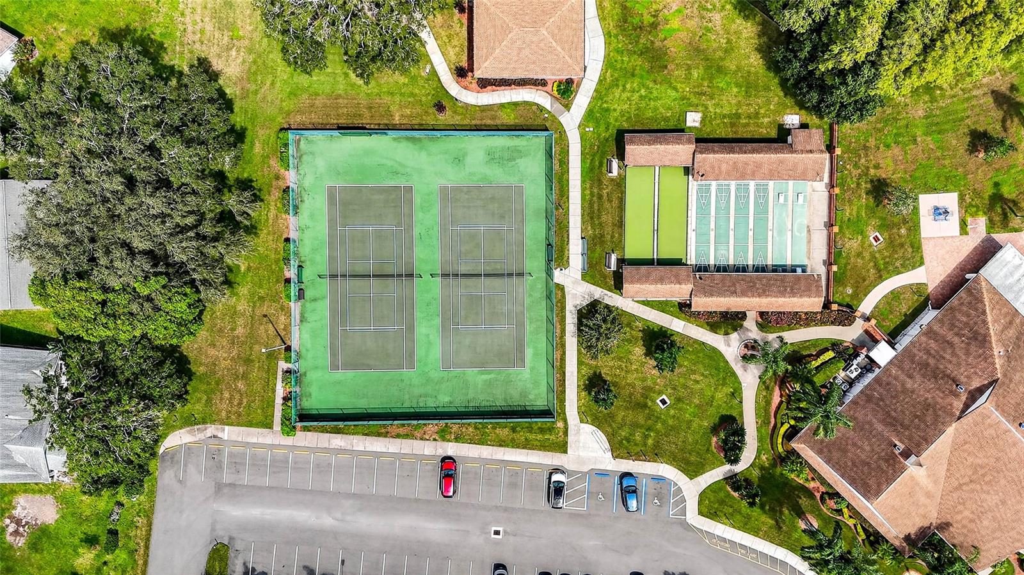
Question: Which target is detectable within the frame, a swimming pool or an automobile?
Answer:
automobile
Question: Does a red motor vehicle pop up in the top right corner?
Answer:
No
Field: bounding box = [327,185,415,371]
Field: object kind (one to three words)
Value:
tennis court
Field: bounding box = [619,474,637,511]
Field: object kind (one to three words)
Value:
car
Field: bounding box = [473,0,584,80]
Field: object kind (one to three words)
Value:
building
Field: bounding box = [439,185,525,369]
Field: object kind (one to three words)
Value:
tennis court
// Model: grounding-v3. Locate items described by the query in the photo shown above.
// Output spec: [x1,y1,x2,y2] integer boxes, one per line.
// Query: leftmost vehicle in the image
[440,458,458,495]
